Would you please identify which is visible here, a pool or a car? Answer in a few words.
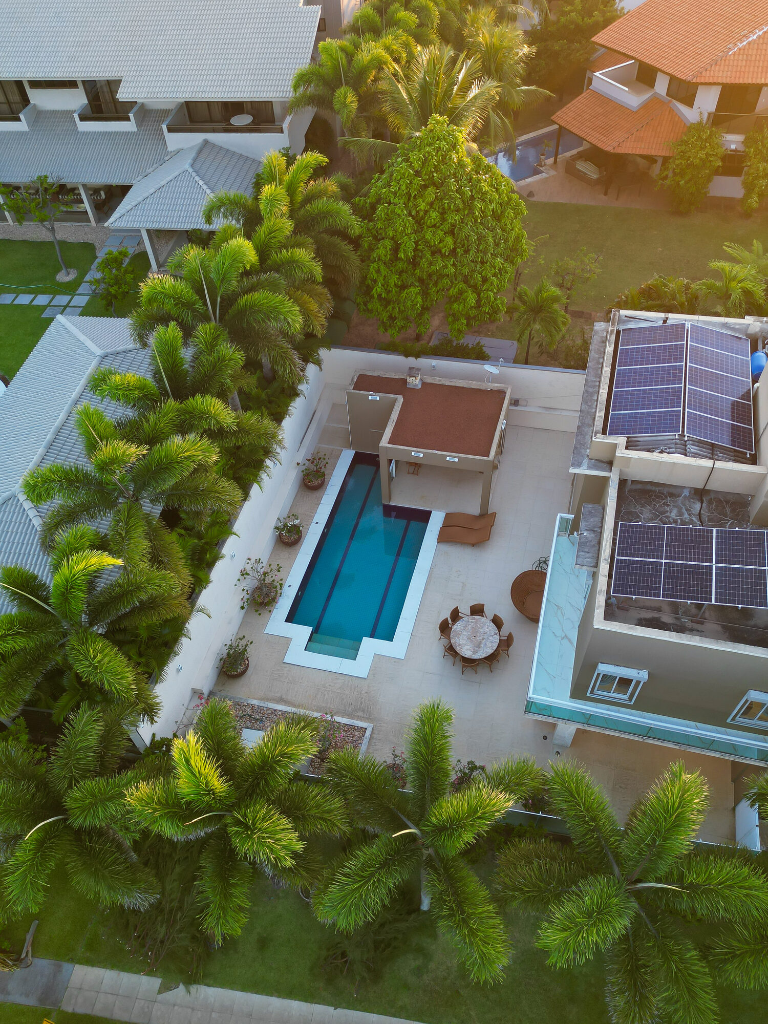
pool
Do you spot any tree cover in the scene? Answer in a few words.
Yes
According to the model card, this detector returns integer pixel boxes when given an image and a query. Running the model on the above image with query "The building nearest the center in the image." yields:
[346,366,510,512]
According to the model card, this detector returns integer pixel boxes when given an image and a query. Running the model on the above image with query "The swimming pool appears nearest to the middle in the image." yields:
[263,448,446,679]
